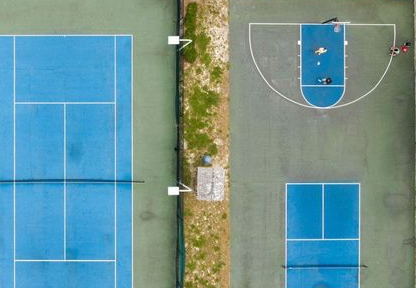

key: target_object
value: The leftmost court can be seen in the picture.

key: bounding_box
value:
[0,34,133,288]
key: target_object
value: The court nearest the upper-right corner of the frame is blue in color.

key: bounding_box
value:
[249,23,396,108]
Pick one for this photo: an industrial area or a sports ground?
sports ground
